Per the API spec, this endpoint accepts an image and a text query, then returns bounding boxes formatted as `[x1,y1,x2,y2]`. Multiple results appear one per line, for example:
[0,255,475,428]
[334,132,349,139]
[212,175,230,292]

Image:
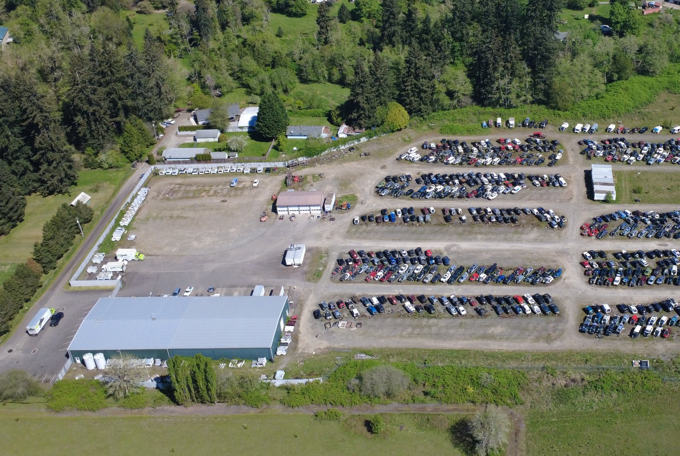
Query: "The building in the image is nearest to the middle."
[276,190,325,215]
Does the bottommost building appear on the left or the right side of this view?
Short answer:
left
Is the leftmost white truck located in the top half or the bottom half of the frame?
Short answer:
bottom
